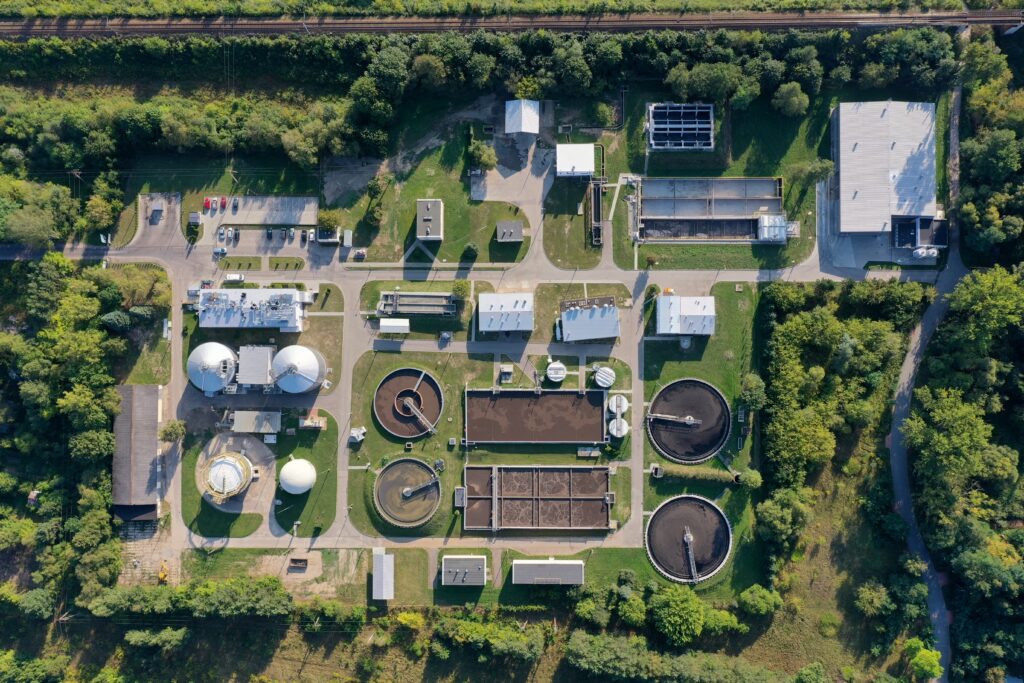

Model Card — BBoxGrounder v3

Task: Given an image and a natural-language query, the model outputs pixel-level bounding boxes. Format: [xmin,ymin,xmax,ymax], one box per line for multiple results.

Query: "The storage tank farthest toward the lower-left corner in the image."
[199,446,268,505]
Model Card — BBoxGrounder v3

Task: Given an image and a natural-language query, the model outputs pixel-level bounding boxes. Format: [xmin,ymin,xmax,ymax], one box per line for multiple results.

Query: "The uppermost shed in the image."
[506,99,551,139]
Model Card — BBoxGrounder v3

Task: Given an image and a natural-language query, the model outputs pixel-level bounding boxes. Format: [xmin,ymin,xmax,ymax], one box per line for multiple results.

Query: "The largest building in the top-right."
[830,98,936,234]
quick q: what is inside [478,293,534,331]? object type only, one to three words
house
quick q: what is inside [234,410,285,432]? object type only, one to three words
building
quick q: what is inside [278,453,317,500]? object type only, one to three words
storage tank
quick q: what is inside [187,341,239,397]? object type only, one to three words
storage tank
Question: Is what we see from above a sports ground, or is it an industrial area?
industrial area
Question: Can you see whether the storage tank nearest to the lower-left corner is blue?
No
